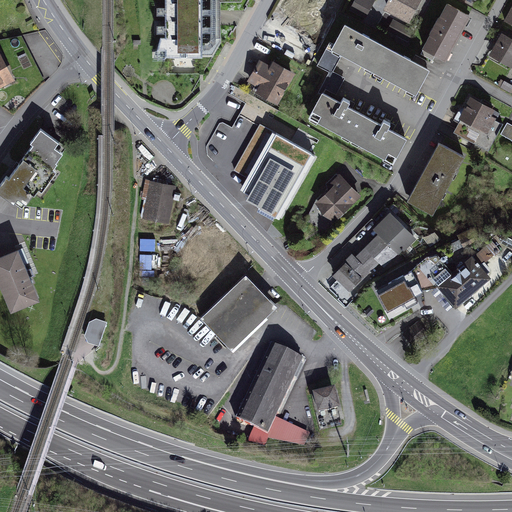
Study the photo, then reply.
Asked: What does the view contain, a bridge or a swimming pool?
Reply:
bridge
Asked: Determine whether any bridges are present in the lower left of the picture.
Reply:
Yes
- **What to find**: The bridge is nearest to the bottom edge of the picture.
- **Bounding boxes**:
[20,364,76,492]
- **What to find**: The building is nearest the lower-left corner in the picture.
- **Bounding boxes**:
[84,319,107,346]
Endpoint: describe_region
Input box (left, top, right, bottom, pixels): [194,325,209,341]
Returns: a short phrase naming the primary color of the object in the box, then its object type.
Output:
white vehicle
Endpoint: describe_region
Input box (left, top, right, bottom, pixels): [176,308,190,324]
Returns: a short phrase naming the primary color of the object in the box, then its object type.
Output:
white vehicle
